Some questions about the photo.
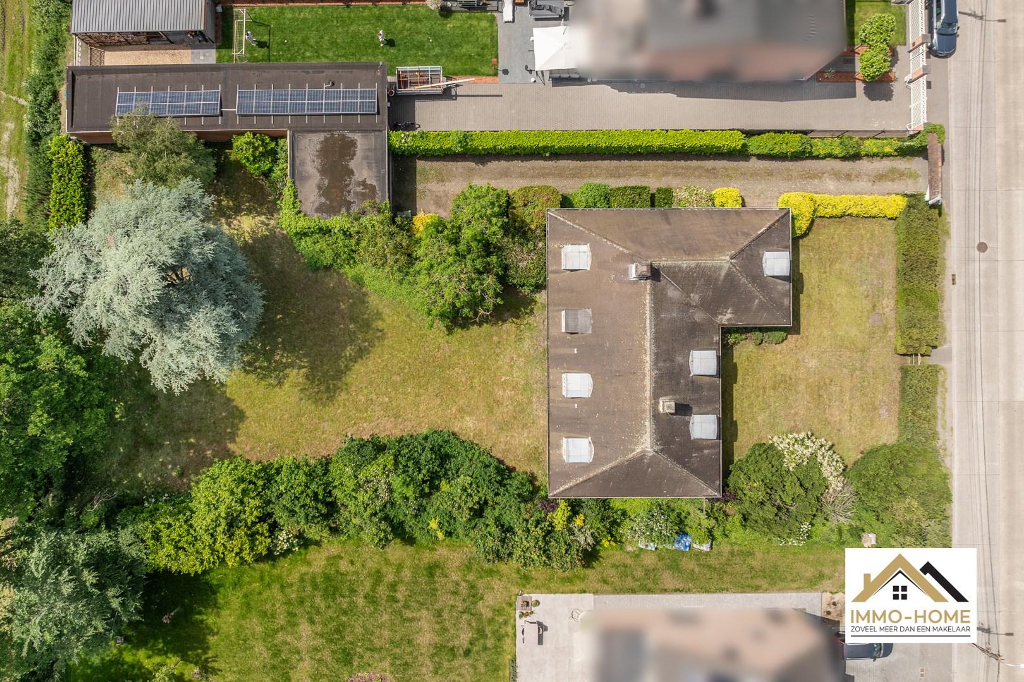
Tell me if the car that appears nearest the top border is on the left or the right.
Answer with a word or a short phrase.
right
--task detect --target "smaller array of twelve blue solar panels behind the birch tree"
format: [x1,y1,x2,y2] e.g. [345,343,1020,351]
[116,84,224,125]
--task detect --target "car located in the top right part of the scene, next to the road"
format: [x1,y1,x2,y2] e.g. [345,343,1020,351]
[927,0,962,60]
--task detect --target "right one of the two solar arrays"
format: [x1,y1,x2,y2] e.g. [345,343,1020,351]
[236,83,379,124]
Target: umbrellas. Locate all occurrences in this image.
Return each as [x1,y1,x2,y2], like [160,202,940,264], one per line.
[533,6,583,71]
